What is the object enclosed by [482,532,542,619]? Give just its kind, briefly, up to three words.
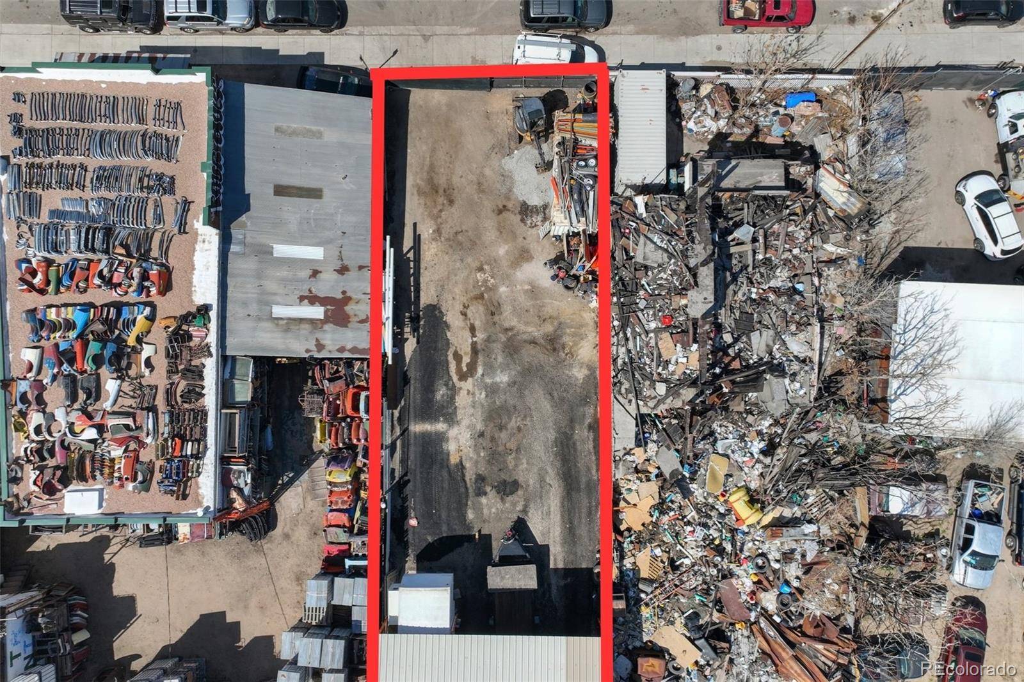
trailer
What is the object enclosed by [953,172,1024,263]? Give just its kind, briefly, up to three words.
car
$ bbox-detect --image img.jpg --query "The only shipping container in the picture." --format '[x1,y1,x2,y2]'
[611,69,668,198]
